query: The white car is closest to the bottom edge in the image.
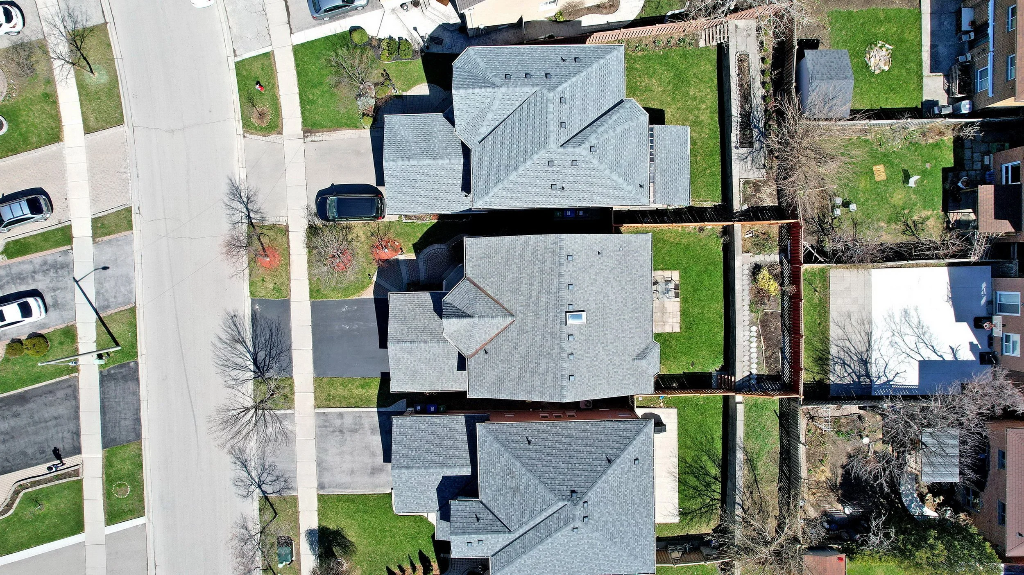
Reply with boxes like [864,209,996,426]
[0,292,47,328]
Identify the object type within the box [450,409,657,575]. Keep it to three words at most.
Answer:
house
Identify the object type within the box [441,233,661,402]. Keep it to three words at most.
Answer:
house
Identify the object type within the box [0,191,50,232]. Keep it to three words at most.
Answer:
car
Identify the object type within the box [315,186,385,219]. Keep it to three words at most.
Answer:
car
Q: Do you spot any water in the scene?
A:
No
